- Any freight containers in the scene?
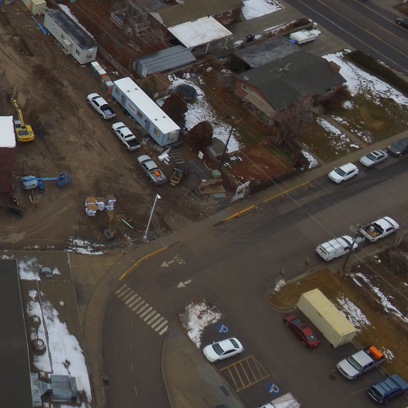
Yes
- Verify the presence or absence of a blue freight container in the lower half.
No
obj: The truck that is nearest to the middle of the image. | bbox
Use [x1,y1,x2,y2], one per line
[136,155,170,188]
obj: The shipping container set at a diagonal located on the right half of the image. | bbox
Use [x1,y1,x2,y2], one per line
[296,289,357,351]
